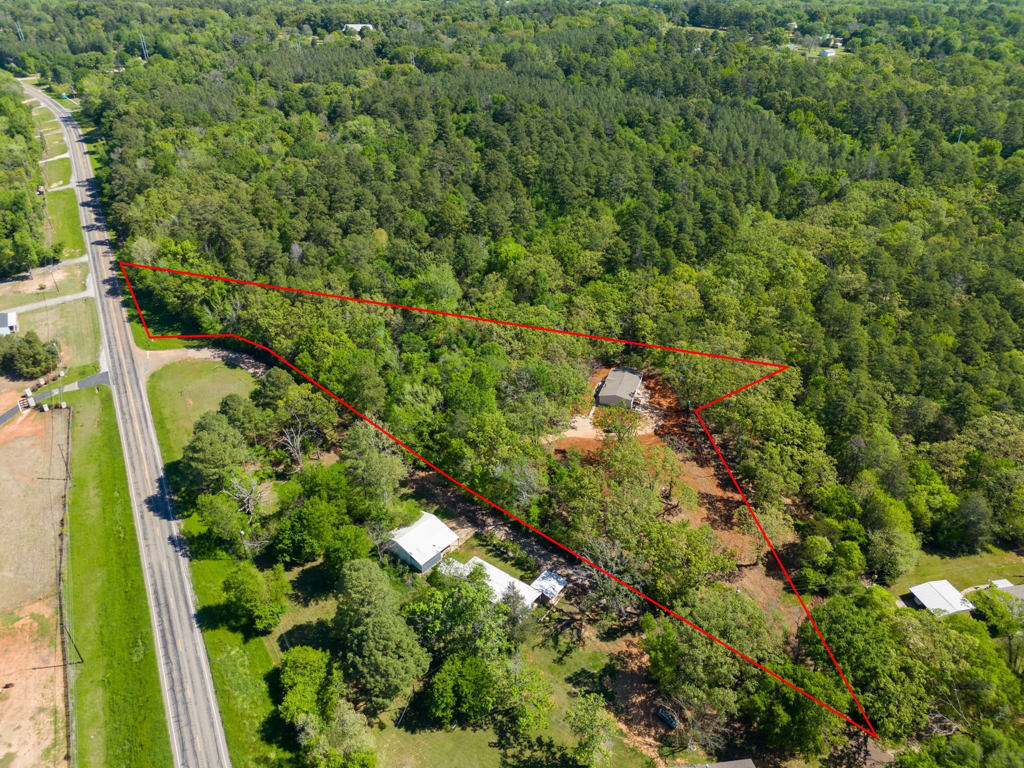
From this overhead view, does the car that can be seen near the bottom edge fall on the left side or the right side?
right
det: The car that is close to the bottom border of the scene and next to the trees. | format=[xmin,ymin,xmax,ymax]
[654,706,679,732]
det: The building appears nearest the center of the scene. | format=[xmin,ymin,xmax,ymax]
[597,367,645,411]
